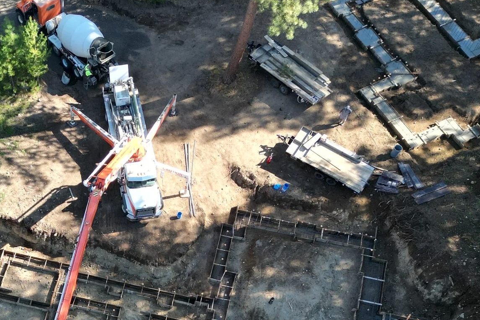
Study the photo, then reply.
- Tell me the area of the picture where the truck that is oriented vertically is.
left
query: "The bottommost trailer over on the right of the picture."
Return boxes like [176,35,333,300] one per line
[275,128,377,195]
